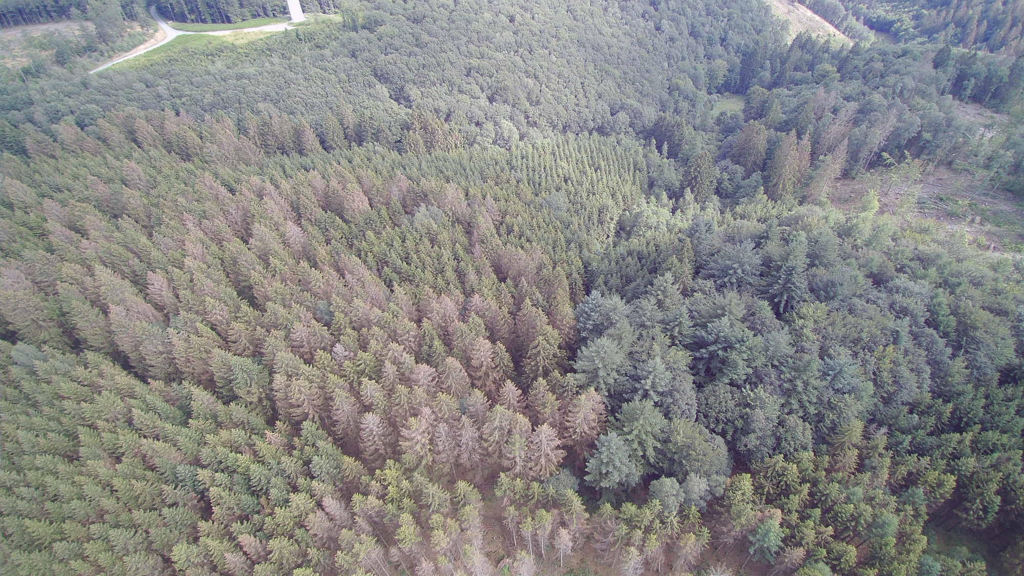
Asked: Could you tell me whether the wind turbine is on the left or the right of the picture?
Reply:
left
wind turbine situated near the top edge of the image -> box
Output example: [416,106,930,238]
[288,0,310,24]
